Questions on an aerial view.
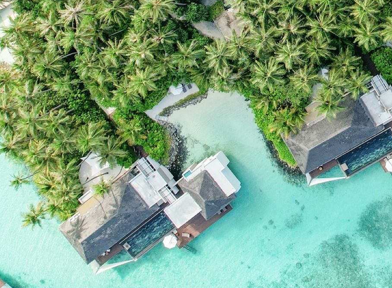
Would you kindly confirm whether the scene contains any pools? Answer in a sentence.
Yes, I can see a pool in this picture.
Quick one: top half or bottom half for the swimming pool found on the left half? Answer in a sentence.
Seen from above, the swimming pool found on the left half lies in the bottom half of the view.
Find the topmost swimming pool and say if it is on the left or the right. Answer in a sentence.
The topmost swimming pool is on the right side of the image.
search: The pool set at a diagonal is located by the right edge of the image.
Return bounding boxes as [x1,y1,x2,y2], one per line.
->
[335,126,392,180]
